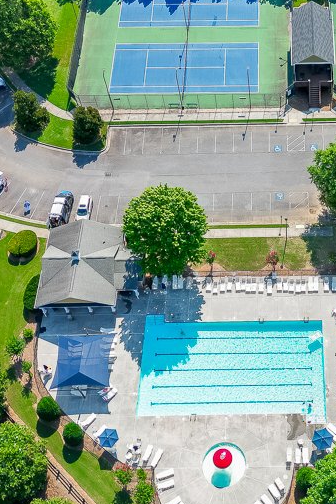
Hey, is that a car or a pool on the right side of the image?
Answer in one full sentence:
The one visible on the right side of the image is a pool.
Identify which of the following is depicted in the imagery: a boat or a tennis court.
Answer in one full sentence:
Of the two, only a tennis court appears.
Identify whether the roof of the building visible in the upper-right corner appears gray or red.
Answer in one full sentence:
The roof of the building visible in the upper-right corner is gray.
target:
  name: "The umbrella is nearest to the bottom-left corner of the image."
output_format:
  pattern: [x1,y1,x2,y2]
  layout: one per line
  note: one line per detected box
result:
[98,429,120,450]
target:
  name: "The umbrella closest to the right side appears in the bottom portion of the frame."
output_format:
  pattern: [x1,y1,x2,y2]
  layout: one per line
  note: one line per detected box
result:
[312,430,332,451]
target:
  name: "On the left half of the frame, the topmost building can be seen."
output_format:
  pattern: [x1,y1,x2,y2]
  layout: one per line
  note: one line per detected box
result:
[35,217,147,315]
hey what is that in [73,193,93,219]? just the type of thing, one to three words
car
